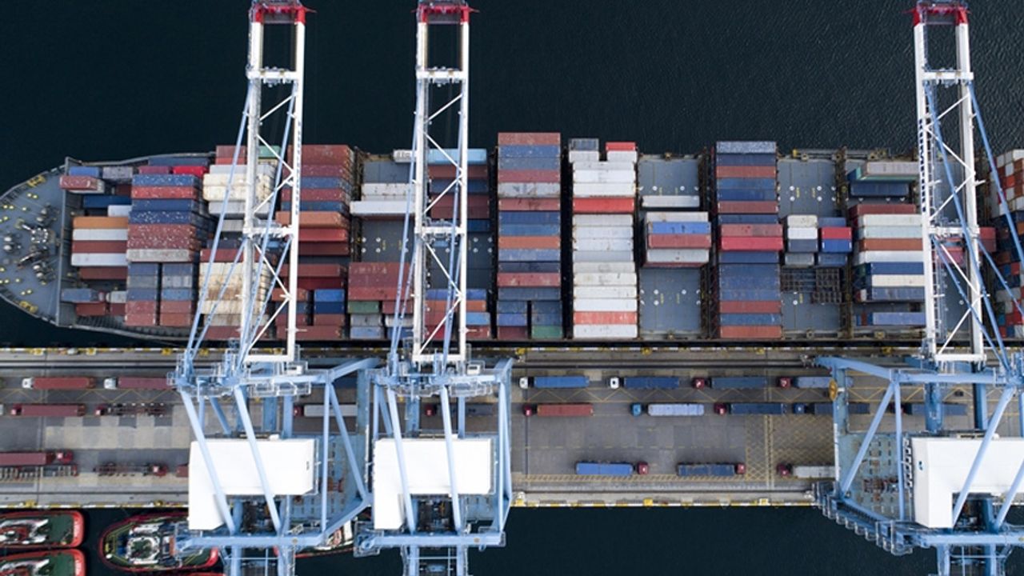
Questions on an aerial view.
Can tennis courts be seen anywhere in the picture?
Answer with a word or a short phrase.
No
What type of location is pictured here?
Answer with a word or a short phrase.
port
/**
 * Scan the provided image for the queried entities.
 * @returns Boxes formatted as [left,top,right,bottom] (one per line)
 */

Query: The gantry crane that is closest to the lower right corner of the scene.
[799,0,1024,576]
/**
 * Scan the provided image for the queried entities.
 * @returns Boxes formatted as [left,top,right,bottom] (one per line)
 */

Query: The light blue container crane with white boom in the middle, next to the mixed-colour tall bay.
[344,0,533,576]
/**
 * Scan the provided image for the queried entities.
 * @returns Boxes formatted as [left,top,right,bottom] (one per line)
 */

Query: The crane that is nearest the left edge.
[162,0,397,576]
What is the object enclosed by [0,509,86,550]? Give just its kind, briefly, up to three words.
boat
